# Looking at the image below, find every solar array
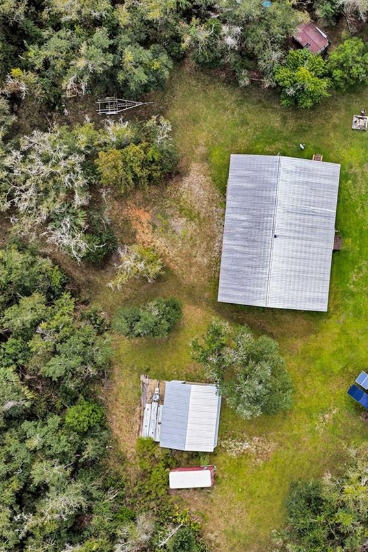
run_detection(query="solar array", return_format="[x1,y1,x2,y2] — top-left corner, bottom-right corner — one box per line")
[356,371,368,391]
[348,385,368,409]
